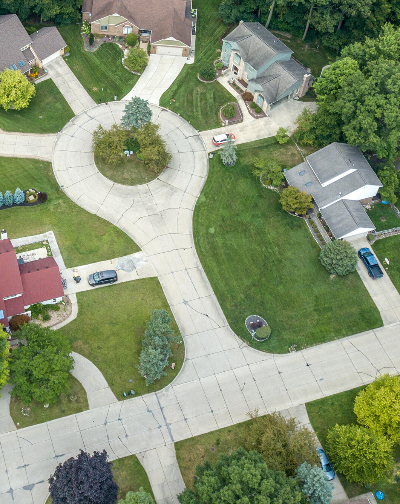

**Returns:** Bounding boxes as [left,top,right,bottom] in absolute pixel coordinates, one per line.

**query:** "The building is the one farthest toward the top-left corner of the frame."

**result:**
[0,15,69,76]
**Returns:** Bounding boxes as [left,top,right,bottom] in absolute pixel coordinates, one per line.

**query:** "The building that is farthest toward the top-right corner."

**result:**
[220,19,316,112]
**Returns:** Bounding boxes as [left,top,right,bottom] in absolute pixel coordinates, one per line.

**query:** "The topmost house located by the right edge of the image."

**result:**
[283,143,382,243]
